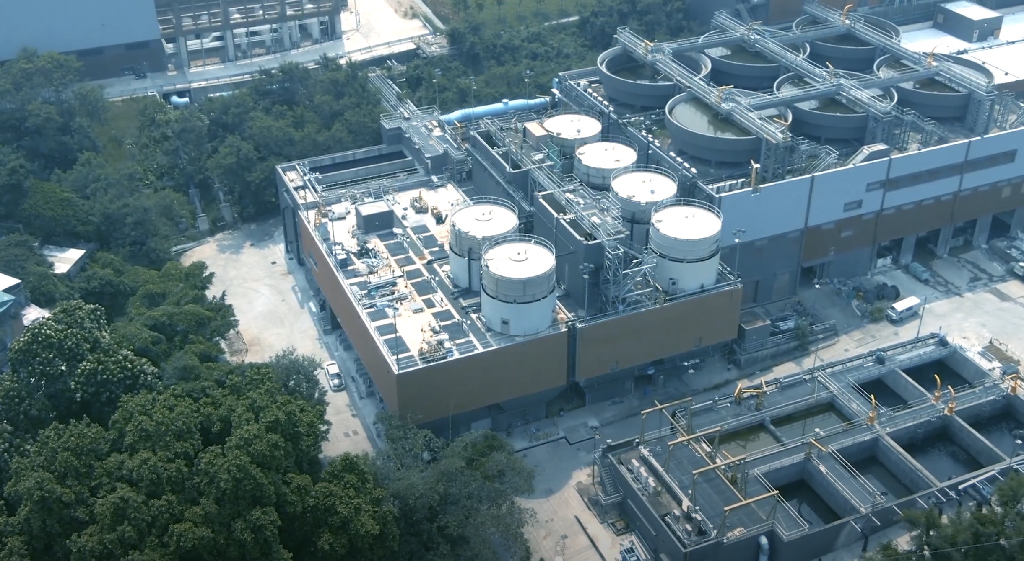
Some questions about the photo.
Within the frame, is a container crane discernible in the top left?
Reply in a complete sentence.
No, looking in the top left, there is no container crane.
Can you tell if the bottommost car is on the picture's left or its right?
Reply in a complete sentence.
It is on the left.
